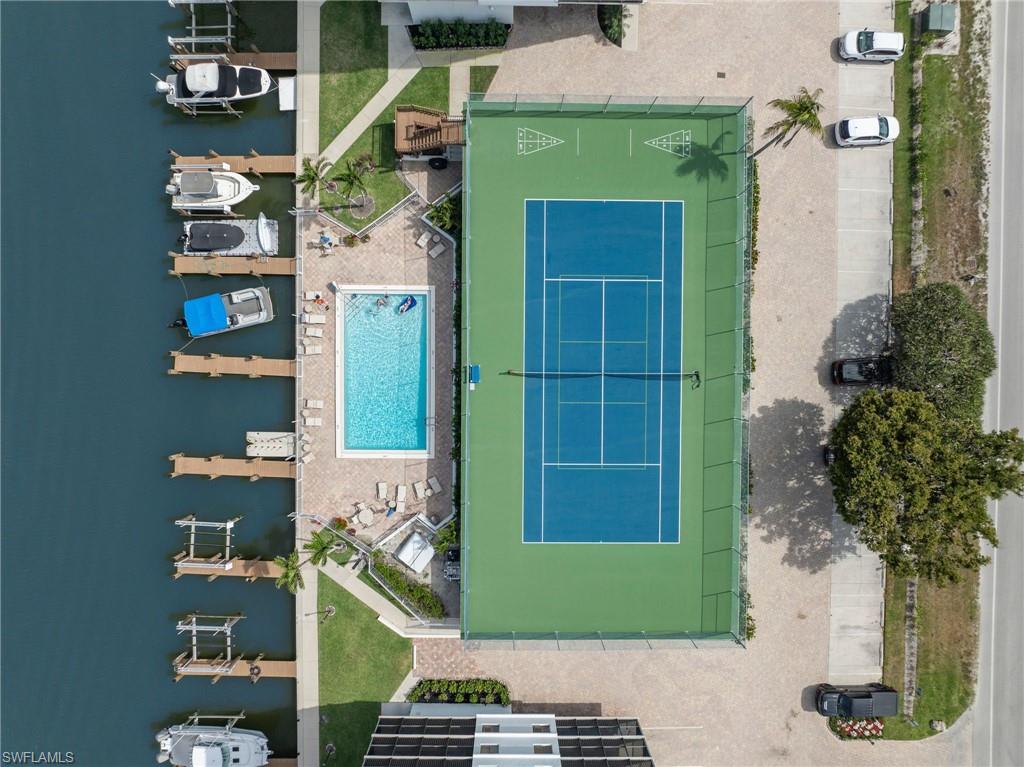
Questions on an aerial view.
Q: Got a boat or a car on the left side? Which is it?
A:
boat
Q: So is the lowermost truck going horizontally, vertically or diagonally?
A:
horizontally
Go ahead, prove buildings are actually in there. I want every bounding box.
[363,711,656,767]
[378,0,641,9]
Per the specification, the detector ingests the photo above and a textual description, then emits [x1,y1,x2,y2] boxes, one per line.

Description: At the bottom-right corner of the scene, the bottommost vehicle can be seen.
[818,685,899,720]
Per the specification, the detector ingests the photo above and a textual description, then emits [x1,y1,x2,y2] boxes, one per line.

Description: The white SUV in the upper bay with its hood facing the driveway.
[840,26,908,61]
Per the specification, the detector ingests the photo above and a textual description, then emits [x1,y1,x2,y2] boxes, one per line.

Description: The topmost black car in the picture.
[832,358,896,387]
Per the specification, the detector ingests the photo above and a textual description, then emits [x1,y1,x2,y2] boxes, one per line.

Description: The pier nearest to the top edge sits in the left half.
[171,40,295,71]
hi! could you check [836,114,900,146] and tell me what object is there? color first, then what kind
white car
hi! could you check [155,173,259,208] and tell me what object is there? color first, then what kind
white boat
